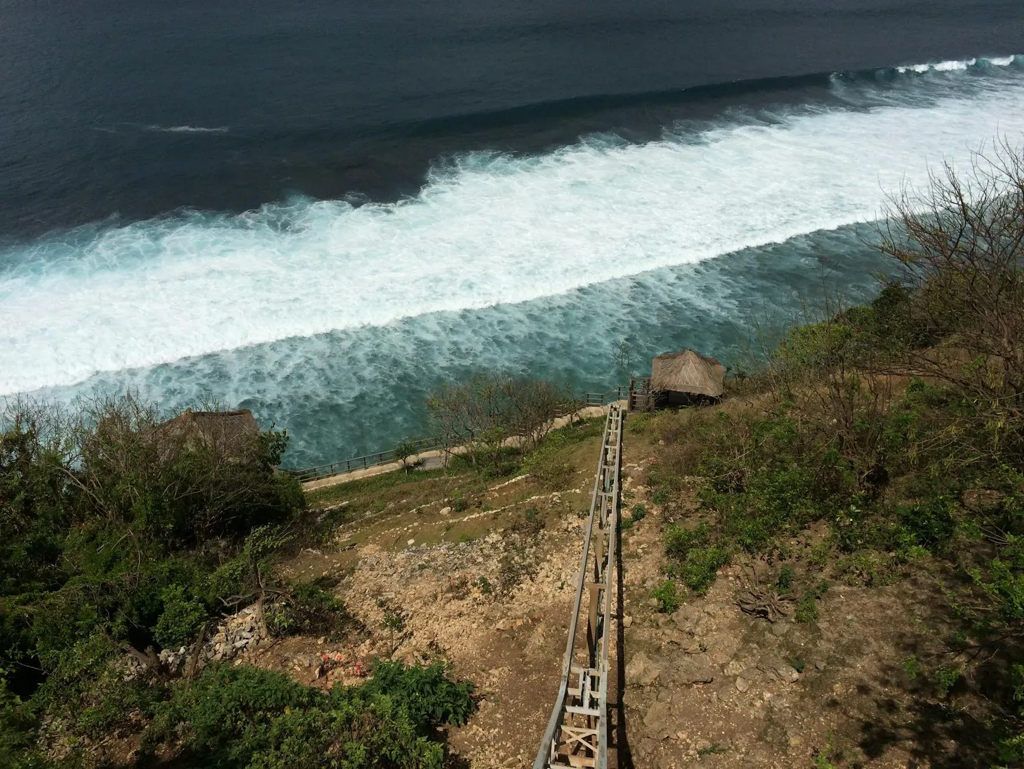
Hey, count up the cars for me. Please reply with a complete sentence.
The picture shows no cars.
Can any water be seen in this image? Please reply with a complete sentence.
Yes, there's water in this view.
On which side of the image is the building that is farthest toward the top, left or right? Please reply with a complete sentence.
It is on the right.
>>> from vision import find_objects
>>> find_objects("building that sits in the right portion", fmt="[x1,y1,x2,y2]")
[654,348,732,414]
